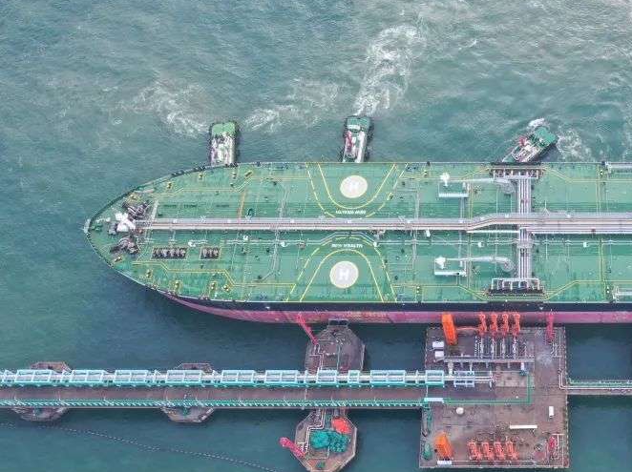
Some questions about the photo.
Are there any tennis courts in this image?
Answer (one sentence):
No, the scene contains no tennis court.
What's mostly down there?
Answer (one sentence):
The bulk of the photo consists of water.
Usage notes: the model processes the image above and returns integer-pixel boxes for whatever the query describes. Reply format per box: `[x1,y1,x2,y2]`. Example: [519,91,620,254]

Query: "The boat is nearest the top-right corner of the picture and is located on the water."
[497,125,557,162]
